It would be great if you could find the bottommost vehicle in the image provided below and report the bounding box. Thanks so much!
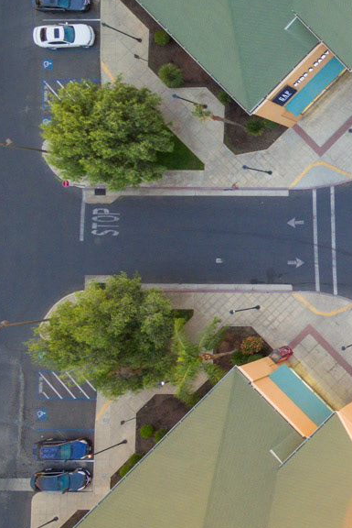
[34,465,96,494]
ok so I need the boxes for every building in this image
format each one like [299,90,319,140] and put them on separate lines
[138,0,352,128]
[71,354,352,528]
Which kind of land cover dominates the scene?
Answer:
paved ground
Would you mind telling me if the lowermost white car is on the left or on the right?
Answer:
left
